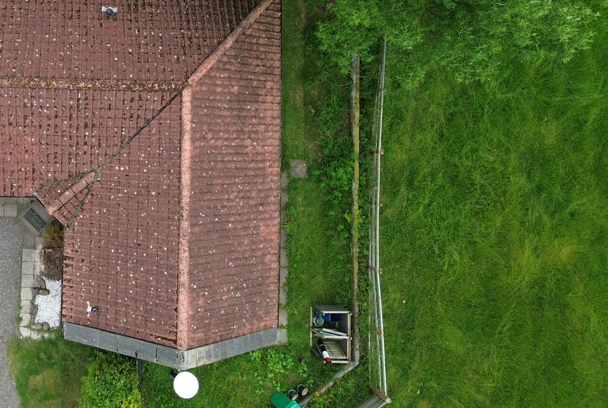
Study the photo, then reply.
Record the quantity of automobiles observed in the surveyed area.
zero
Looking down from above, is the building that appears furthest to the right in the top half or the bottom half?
bottom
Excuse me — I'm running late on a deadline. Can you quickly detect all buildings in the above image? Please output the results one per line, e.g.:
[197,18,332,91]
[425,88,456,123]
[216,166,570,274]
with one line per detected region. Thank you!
[0,0,283,369]
[310,303,352,362]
